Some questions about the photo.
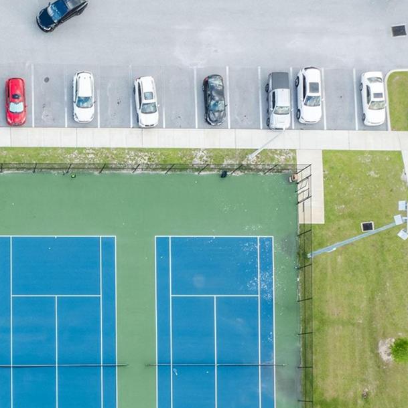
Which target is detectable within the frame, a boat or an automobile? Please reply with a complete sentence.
The image shows an automobile.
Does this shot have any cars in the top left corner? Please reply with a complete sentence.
Yes, looking in the top left corner, one can make out a car.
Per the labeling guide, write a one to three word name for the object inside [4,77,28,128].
car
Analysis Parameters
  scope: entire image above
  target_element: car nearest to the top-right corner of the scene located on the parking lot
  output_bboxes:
[358,72,387,128]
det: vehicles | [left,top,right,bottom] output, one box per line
[4,77,28,128]
[294,67,324,124]
[72,69,97,124]
[134,75,160,129]
[36,0,90,33]
[358,72,387,128]
[264,71,293,131]
[201,74,228,127]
